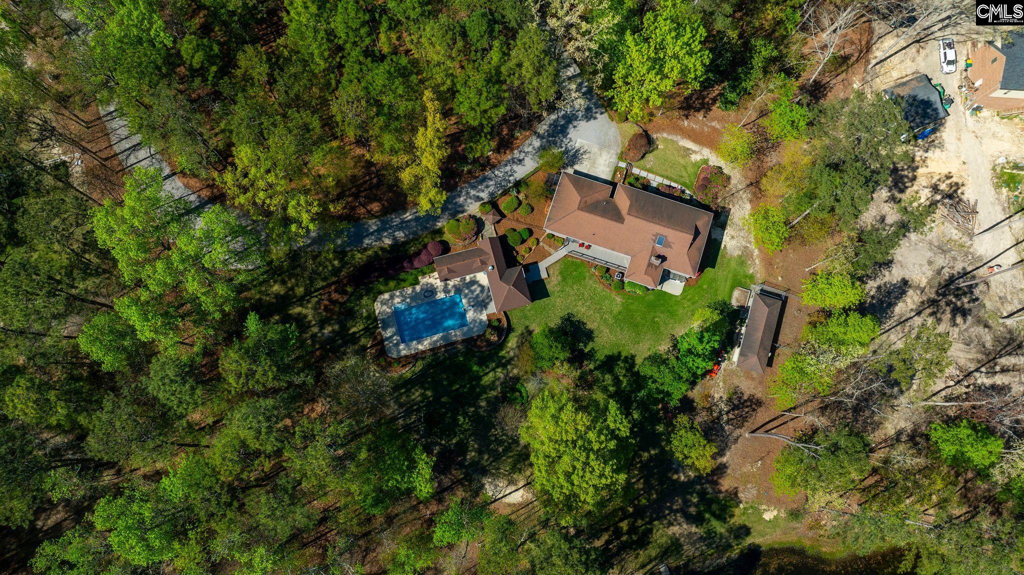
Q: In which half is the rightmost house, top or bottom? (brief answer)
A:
top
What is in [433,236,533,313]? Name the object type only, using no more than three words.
building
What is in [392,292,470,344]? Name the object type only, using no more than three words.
swimming pool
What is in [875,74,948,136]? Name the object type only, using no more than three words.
shed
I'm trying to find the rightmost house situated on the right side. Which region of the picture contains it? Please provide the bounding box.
[967,33,1024,111]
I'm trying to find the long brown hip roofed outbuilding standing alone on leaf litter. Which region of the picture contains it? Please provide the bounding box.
[734,293,782,375]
